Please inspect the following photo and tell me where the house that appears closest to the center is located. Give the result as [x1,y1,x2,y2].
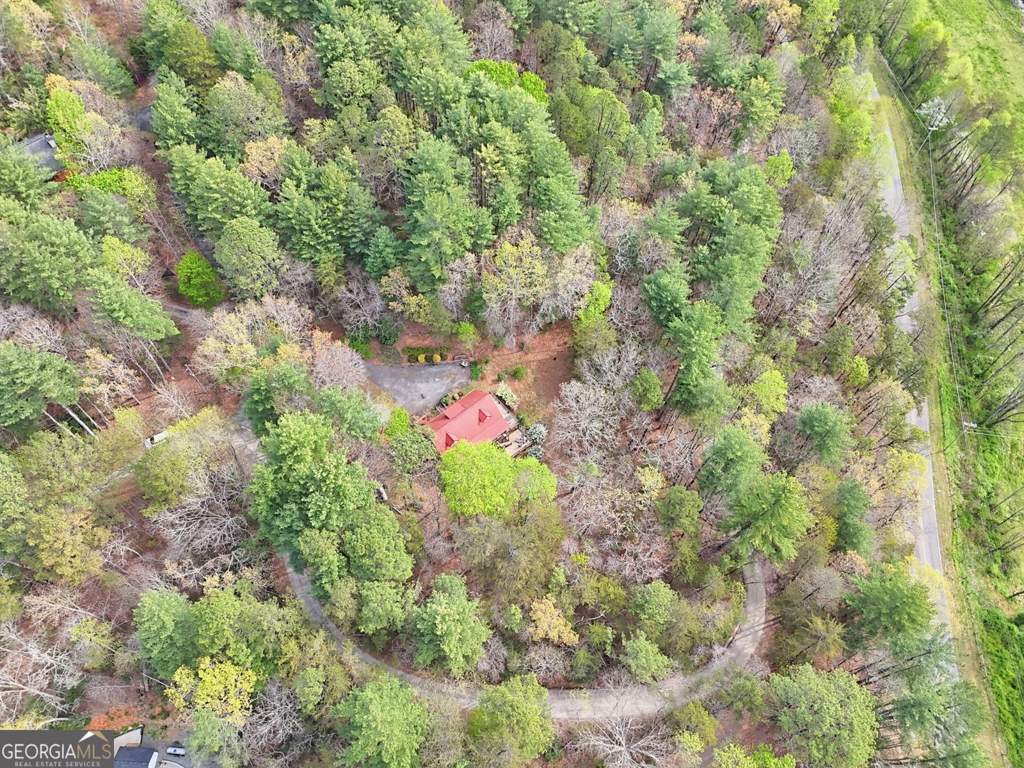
[424,388,534,459]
